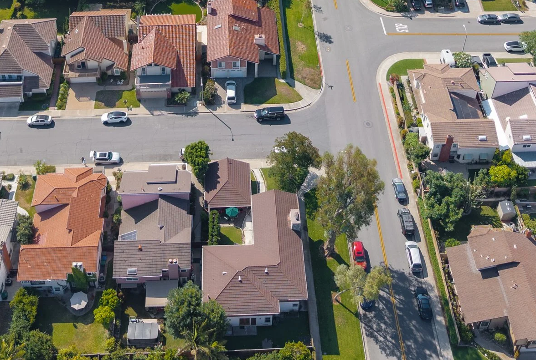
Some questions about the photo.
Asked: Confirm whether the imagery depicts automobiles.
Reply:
Yes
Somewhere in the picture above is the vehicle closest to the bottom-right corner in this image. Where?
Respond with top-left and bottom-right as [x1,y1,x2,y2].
[414,288,431,320]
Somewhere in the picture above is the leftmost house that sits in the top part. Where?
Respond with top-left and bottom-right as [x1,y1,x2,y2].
[0,16,61,107]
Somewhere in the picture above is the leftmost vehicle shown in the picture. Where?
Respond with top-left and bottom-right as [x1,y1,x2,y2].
[26,114,53,128]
